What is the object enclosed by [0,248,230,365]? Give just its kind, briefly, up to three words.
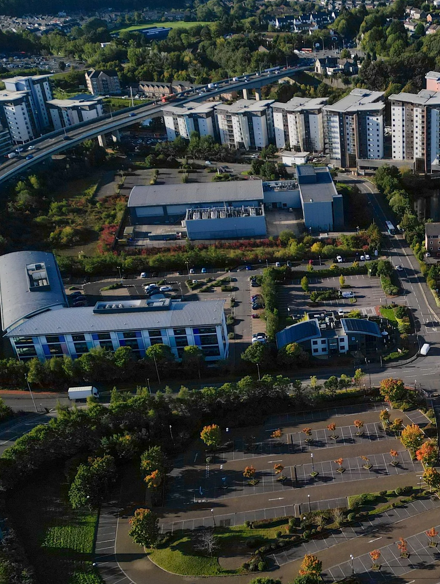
building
